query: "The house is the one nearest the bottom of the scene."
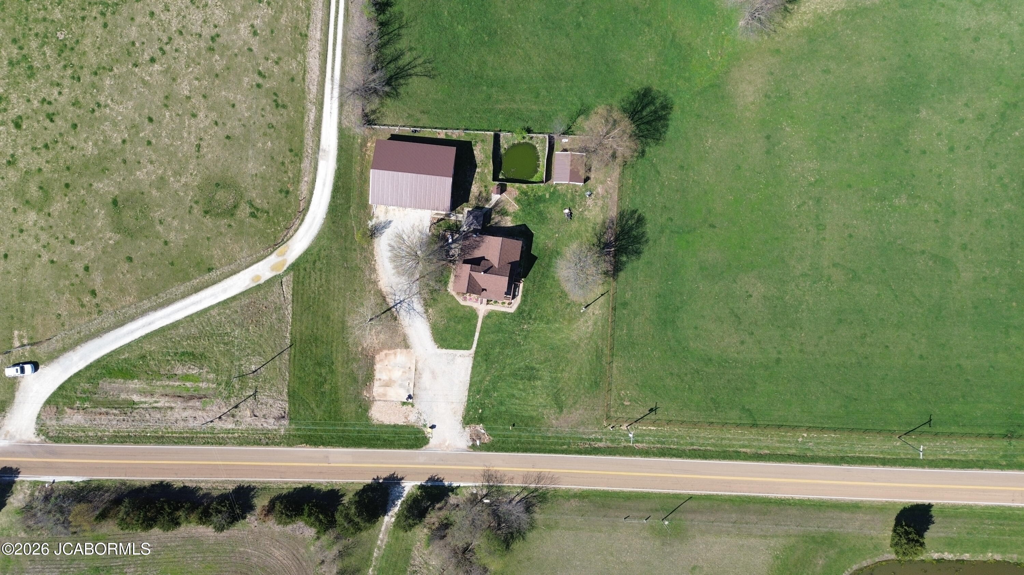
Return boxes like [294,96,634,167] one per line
[453,232,522,303]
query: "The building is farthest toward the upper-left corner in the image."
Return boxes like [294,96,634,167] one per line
[370,139,457,212]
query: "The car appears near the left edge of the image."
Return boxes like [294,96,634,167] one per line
[5,363,38,377]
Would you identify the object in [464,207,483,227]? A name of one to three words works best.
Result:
gazebo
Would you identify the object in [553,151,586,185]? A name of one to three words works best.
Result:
shed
